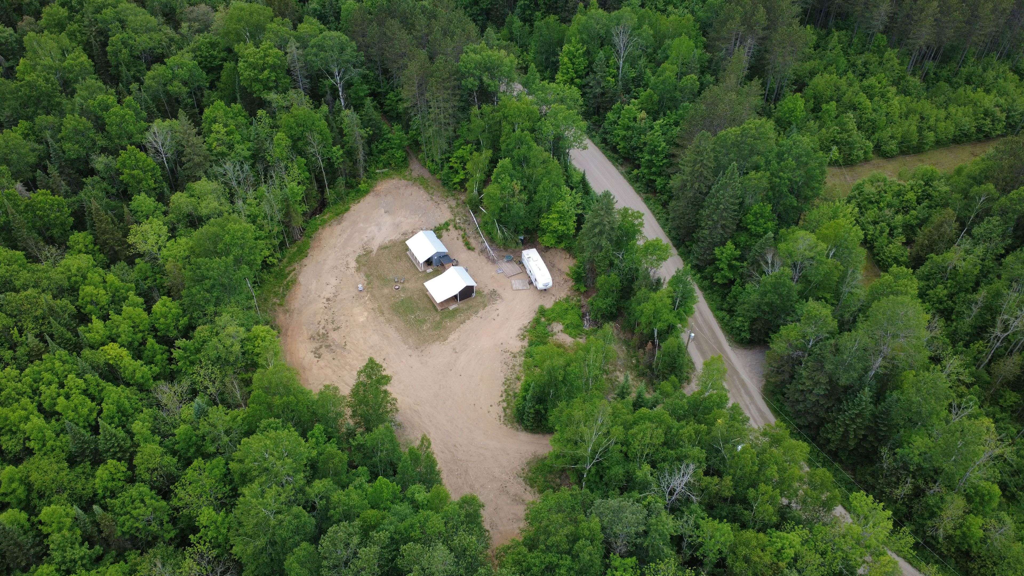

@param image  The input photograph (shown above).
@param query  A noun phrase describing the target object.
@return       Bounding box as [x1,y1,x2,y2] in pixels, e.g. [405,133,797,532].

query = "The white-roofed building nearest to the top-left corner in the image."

[405,230,448,271]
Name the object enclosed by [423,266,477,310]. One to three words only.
building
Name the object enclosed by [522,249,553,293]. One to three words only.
vehicle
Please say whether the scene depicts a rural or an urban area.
rural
